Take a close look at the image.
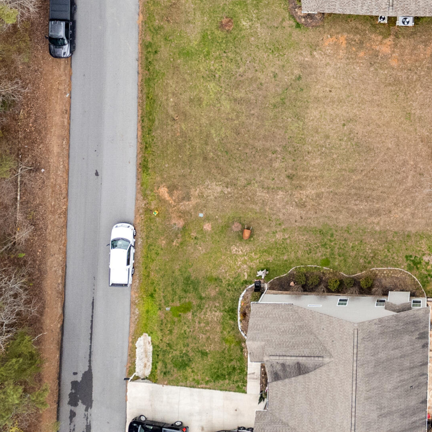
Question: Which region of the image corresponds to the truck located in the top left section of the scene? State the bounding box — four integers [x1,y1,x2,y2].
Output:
[46,0,78,60]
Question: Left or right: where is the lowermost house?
right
